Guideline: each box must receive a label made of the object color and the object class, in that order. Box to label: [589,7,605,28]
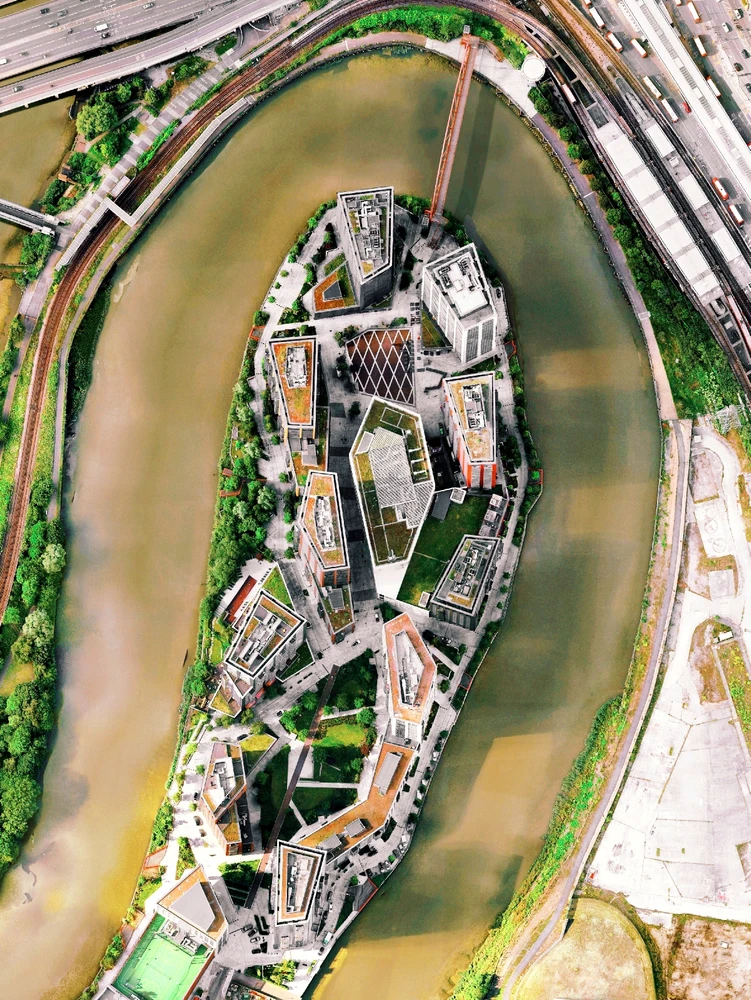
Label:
white vehicle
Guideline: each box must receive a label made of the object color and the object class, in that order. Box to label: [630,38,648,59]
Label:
white vehicle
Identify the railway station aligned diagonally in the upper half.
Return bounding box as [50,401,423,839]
[596,82,751,312]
